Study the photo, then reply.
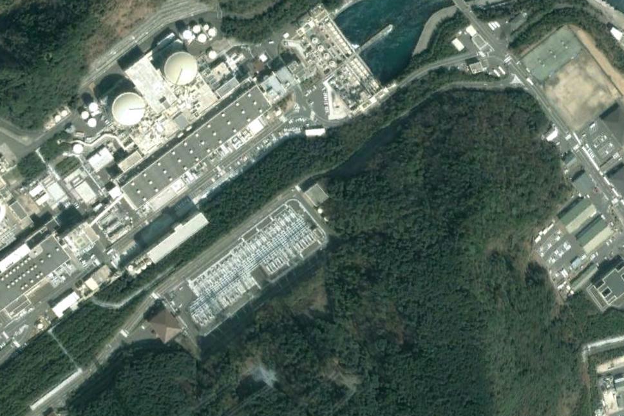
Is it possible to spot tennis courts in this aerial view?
Yes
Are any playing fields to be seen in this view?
Yes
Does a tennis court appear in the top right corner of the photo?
Yes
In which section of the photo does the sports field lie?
top right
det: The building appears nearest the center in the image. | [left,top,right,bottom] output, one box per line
[302,181,330,206]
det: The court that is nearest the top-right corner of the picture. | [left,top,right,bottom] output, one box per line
[552,25,583,58]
